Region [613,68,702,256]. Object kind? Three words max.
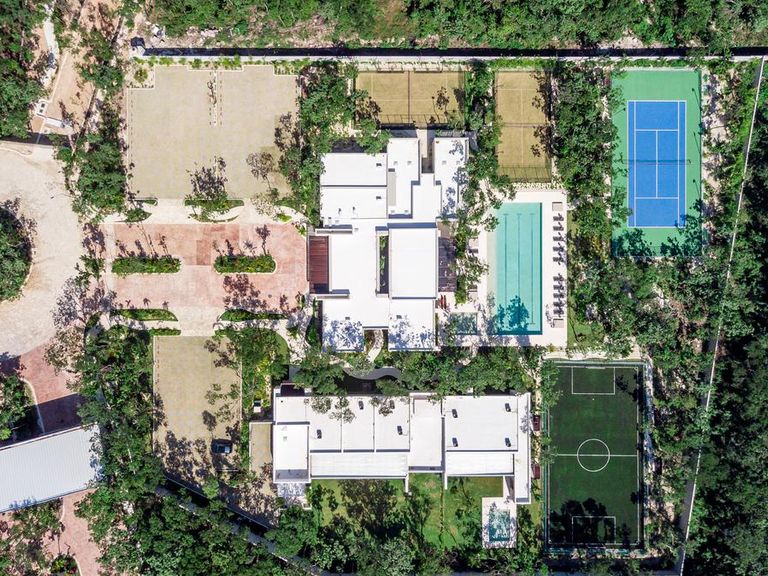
tennis court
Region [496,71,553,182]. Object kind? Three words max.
sports court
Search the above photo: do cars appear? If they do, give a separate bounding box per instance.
[209,444,232,456]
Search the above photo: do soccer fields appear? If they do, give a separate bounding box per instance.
[545,360,642,547]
